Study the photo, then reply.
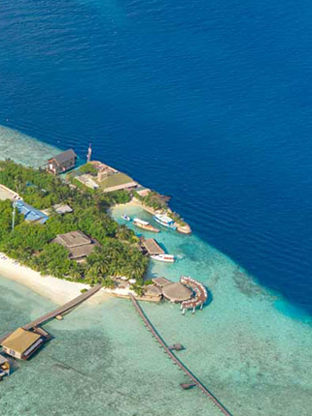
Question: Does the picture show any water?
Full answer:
Yes, there's water in this view.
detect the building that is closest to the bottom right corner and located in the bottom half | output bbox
[161,284,193,310]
